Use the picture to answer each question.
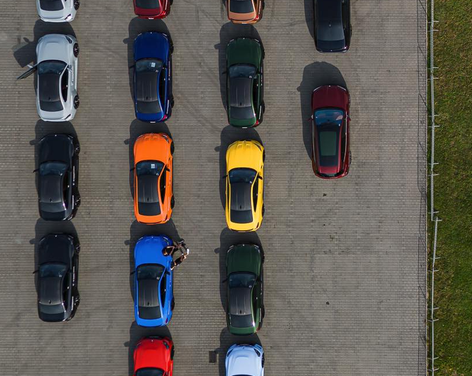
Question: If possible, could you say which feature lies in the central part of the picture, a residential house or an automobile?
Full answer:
Visible in the central part of the picture is an automobile.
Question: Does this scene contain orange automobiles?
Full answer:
Yes, the photo shows an orange automobile.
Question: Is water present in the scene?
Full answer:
No, the scene doesn't show any water.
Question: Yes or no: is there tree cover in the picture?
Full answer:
No, the picture contains no tree cover.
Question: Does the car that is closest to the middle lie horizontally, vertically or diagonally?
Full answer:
In this picture, the car that is closest to the middle is oriented vertically.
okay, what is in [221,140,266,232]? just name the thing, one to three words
car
